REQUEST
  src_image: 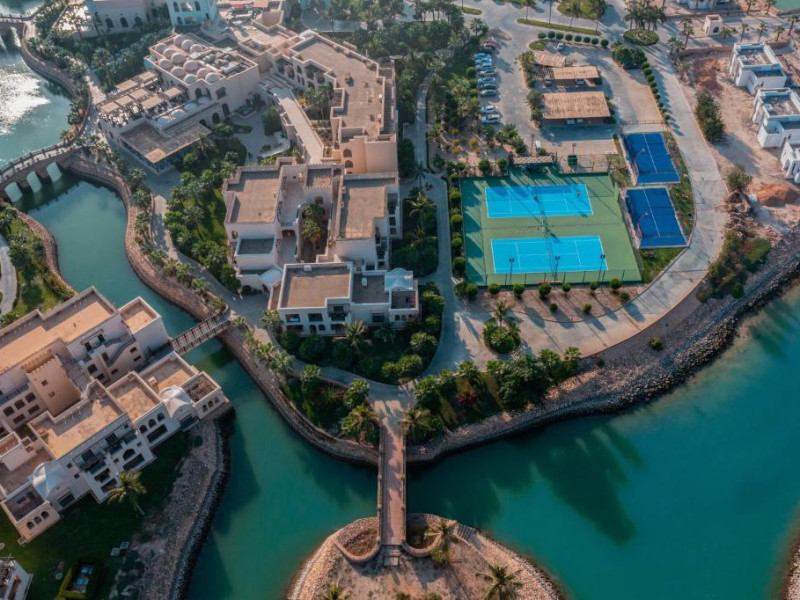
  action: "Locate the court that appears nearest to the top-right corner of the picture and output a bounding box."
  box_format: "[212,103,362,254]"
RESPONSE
[622,123,683,184]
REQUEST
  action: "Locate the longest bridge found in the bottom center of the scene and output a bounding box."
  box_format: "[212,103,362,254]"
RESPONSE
[377,396,405,572]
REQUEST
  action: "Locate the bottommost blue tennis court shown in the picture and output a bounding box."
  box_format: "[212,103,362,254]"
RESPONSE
[491,231,608,274]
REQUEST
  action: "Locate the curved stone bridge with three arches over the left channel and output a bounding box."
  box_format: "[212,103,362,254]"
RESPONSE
[0,140,81,199]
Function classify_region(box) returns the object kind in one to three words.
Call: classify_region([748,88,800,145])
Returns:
house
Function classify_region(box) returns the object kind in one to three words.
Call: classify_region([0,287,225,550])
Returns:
building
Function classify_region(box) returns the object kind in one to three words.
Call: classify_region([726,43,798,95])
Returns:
house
